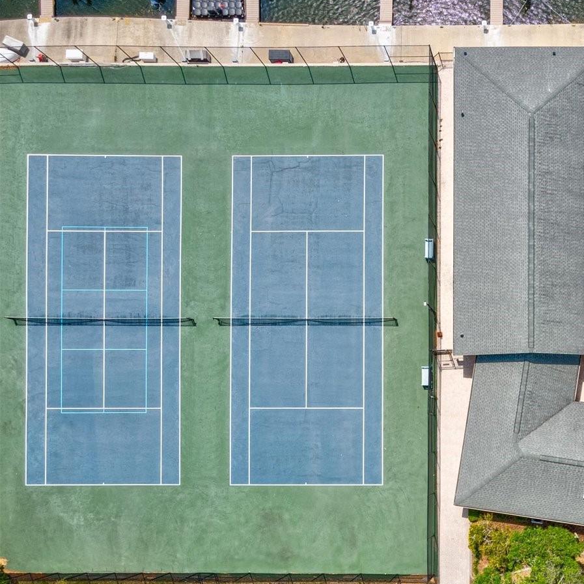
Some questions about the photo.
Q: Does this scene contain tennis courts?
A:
Yes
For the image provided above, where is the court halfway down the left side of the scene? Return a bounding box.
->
[0,65,207,575]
